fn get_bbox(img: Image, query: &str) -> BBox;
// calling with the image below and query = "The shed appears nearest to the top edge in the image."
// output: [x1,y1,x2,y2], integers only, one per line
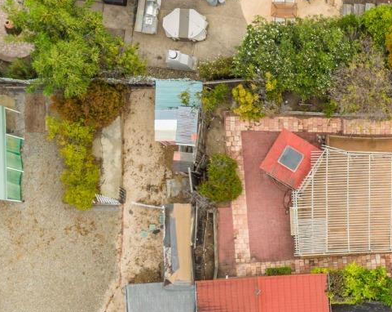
[155,80,205,146]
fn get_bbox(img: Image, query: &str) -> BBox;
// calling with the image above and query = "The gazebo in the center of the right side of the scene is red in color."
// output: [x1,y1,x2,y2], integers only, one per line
[259,128,321,190]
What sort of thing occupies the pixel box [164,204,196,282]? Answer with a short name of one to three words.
building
